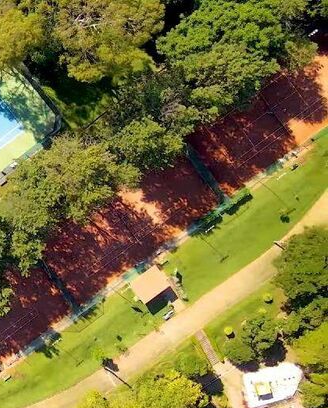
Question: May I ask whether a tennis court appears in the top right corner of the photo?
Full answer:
Yes, in the top right corner of the photo there is a tennis court.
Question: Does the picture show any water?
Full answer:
No, no water is visible.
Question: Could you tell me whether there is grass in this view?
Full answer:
Yes, grass can be seen from above here.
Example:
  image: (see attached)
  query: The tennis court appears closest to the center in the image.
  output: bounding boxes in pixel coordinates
[34,137,223,306]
